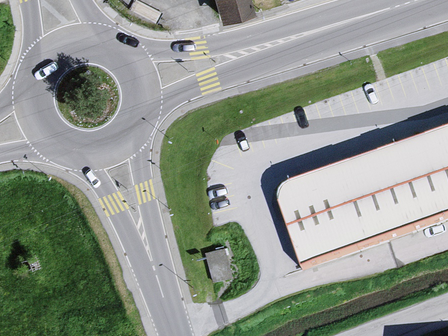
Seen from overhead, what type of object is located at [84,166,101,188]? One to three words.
car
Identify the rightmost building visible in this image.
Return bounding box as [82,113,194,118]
[276,119,448,274]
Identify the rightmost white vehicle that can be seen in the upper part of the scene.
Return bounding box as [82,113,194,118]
[365,83,379,105]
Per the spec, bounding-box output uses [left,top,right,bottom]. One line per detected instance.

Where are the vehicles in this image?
[210,197,232,210]
[172,42,197,52]
[35,60,58,78]
[208,186,230,199]
[117,32,140,47]
[365,83,379,105]
[424,224,448,236]
[296,106,310,130]
[84,166,101,188]
[237,130,250,152]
